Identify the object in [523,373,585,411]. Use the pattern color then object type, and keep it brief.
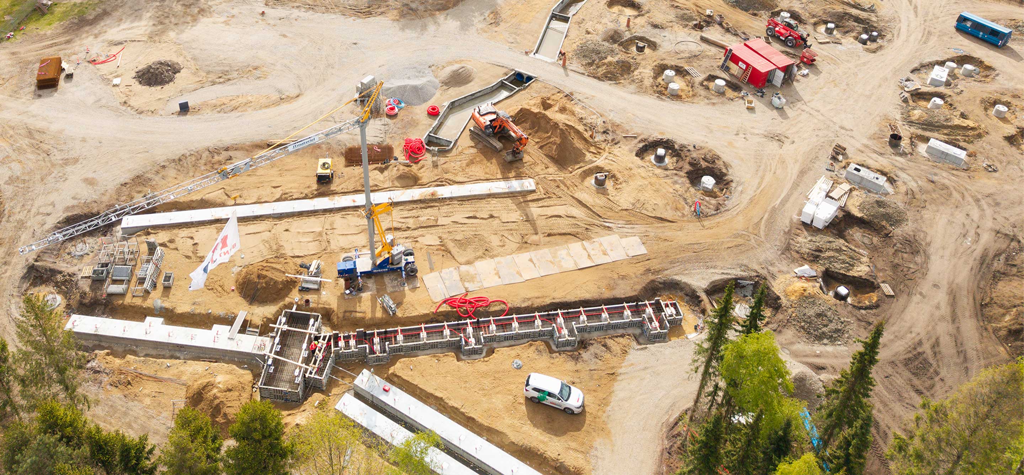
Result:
white car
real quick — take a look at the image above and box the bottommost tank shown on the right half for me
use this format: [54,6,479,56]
[844,163,886,191]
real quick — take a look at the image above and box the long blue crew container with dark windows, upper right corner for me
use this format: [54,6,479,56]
[953,9,1012,47]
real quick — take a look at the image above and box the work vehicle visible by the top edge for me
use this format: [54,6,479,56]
[766,15,812,52]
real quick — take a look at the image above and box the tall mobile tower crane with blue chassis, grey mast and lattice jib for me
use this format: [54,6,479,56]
[19,84,425,293]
